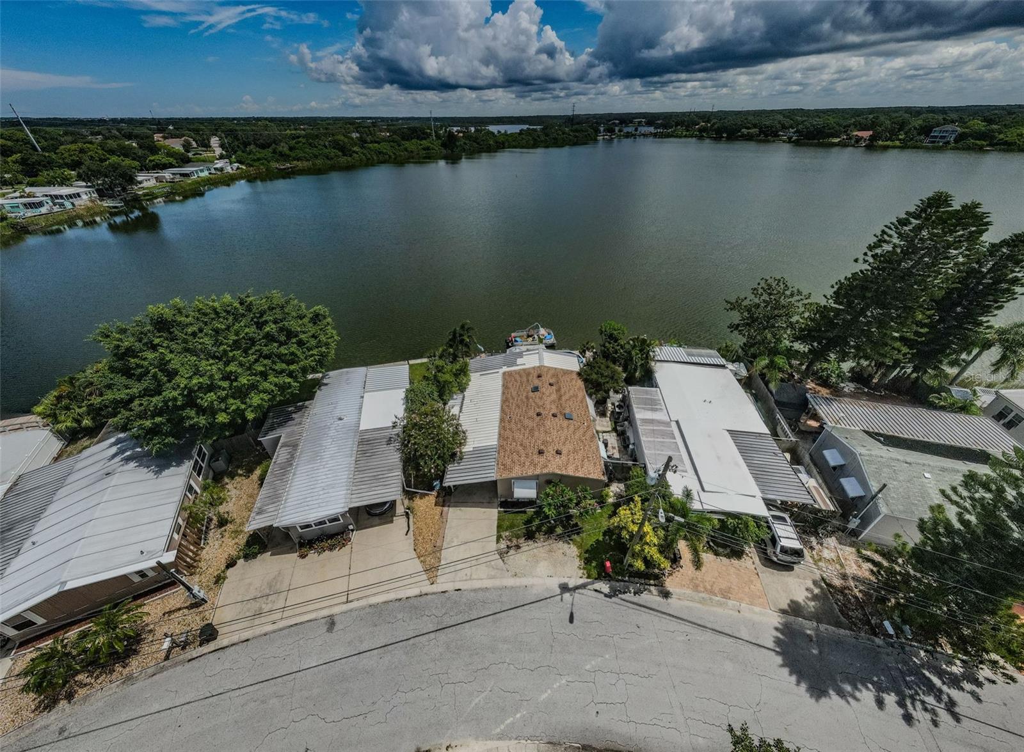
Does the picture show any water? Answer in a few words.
Yes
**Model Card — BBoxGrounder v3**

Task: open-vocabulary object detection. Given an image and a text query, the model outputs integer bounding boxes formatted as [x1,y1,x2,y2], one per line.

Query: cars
[762,507,813,577]
[372,502,402,521]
